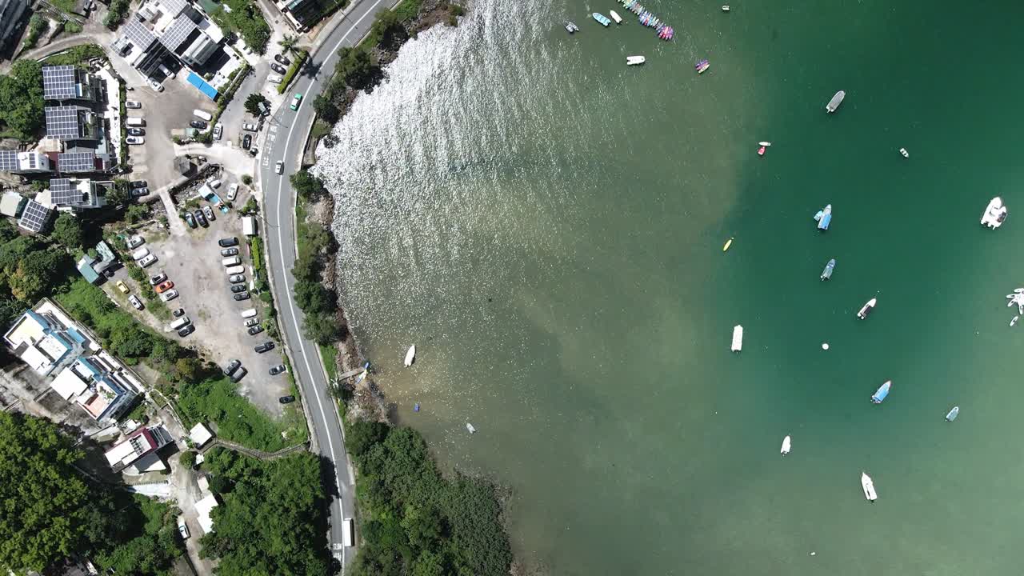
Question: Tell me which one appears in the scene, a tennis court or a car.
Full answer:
Looking from above, you can make out a car.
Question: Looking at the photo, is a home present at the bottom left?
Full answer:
Yes, a home shows up at the bottom left.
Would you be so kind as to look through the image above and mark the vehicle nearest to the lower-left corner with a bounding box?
[177,516,190,538]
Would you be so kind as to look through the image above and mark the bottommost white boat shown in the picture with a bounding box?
[863,473,878,503]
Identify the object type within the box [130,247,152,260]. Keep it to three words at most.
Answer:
vehicle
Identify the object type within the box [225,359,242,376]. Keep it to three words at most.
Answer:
car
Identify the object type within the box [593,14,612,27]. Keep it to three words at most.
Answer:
boat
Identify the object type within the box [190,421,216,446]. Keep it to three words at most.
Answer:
shed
